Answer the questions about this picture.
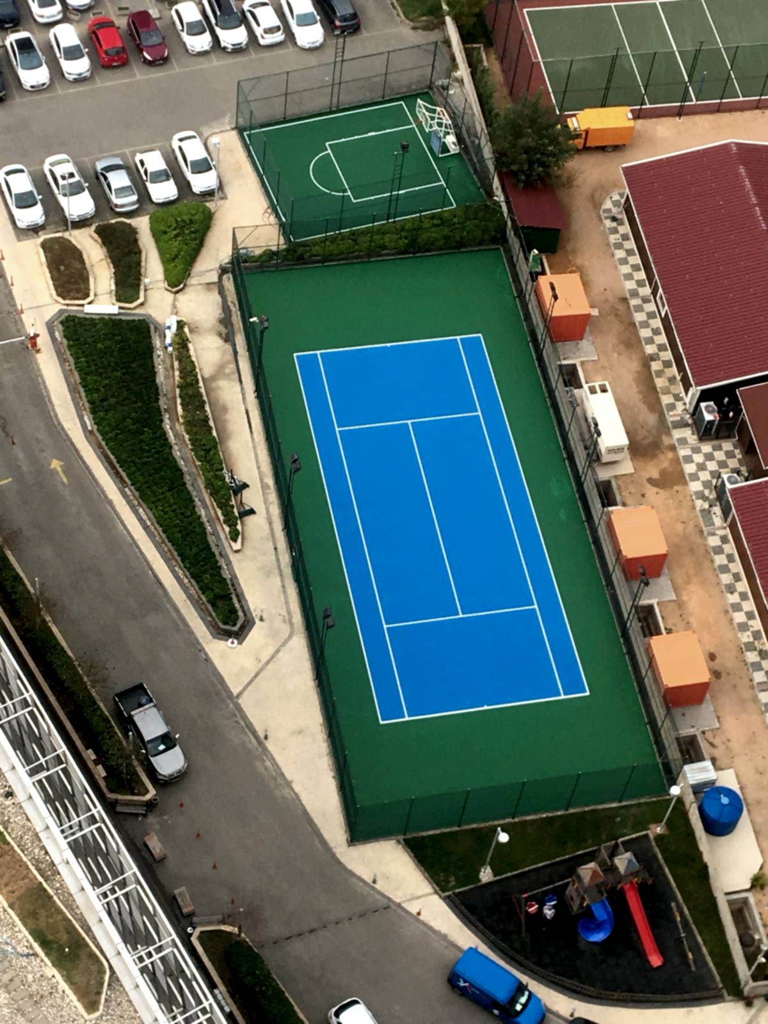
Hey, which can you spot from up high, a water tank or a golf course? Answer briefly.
water tank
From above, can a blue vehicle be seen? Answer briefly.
Yes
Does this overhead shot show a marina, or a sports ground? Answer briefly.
sports ground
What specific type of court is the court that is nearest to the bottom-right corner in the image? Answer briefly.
tennis court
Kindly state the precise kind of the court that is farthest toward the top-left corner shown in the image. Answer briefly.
basketball court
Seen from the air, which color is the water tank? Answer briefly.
blue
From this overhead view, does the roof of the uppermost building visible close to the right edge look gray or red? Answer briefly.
red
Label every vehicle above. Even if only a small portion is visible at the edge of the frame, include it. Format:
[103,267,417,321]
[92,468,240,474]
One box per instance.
[30,0,62,19]
[315,0,361,38]
[0,70,9,101]
[202,0,249,54]
[7,36,52,93]
[97,161,142,219]
[49,28,93,83]
[277,0,324,51]
[127,13,171,67]
[88,21,131,71]
[170,2,216,56]
[448,953,547,1024]
[63,0,93,12]
[169,135,216,196]
[564,1016,592,1024]
[550,106,635,162]
[1,167,47,229]
[130,145,177,206]
[45,159,95,223]
[242,3,288,52]
[110,683,186,789]
[323,991,378,1024]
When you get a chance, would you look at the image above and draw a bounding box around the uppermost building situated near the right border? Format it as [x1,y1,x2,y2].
[621,144,768,414]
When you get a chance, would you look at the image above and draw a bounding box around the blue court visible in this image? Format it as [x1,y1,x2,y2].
[247,249,658,811]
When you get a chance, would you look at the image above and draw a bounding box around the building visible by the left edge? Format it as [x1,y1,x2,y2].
[0,633,230,1024]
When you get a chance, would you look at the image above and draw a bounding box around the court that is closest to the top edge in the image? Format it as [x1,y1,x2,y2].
[496,0,768,128]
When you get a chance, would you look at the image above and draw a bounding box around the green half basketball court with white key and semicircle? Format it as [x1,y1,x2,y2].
[238,90,492,241]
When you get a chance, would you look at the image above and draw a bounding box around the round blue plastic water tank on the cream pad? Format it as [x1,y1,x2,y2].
[697,796,746,847]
